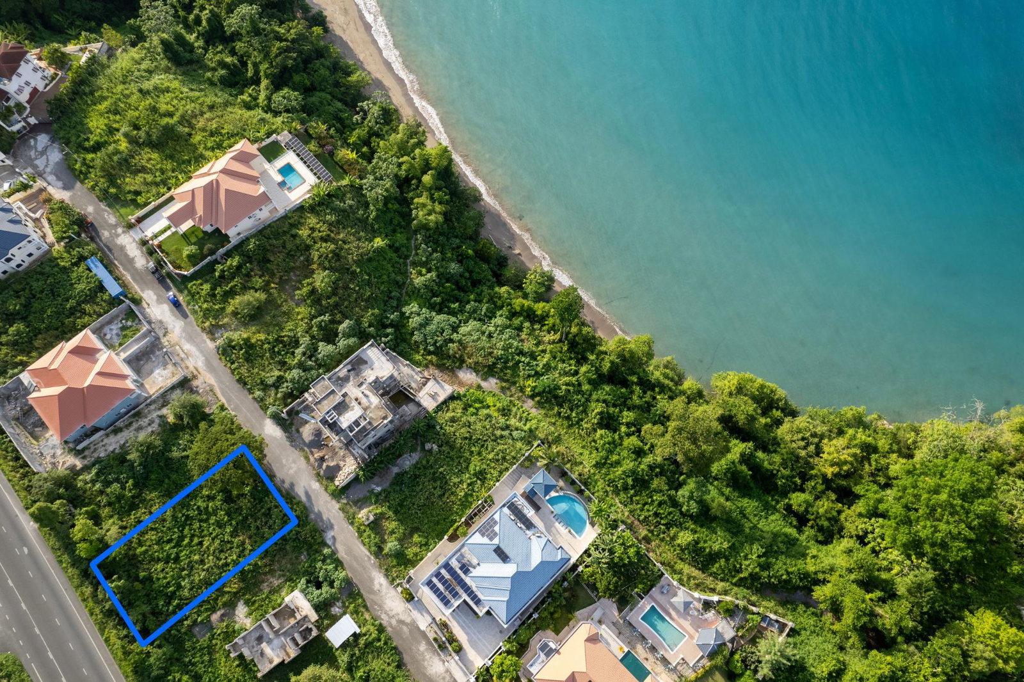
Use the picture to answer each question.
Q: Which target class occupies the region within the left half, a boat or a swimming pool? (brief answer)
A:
swimming pool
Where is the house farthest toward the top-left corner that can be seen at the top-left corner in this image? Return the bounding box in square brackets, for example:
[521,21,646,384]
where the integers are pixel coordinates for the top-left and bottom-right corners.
[0,41,58,122]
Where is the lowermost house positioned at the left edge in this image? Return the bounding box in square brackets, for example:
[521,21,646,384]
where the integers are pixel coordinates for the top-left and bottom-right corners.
[20,328,151,442]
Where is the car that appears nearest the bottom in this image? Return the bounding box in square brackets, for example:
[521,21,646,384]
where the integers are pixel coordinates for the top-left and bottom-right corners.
[164,291,180,307]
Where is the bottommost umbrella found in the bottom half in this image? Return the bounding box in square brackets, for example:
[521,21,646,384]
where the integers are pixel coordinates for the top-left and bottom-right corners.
[670,588,694,614]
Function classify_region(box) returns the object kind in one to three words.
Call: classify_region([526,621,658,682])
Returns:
house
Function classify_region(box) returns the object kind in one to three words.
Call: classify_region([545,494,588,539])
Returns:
swimming pool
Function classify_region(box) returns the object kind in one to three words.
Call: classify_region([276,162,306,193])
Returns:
swimming pool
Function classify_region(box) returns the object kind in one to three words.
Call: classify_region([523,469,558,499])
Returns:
building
